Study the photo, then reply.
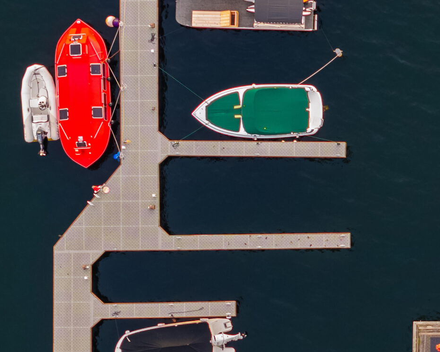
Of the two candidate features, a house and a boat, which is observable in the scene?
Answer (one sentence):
Looking from above, you can make out a boat.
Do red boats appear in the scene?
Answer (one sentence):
Yes, I can see a red boat in this picture.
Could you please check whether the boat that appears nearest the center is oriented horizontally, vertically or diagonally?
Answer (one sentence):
In this picture, the boat that appears nearest the center is oriented horizontally.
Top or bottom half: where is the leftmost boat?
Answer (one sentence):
The leftmost boat sits in the top half of the picture.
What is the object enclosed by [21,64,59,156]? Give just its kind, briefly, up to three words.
boat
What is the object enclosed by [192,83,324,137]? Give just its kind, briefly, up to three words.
boat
